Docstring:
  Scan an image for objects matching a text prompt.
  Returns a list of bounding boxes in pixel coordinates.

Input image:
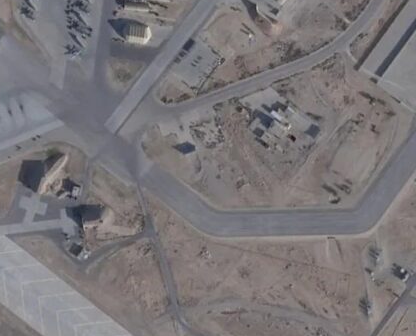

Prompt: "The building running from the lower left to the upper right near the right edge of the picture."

[363,0,416,77]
